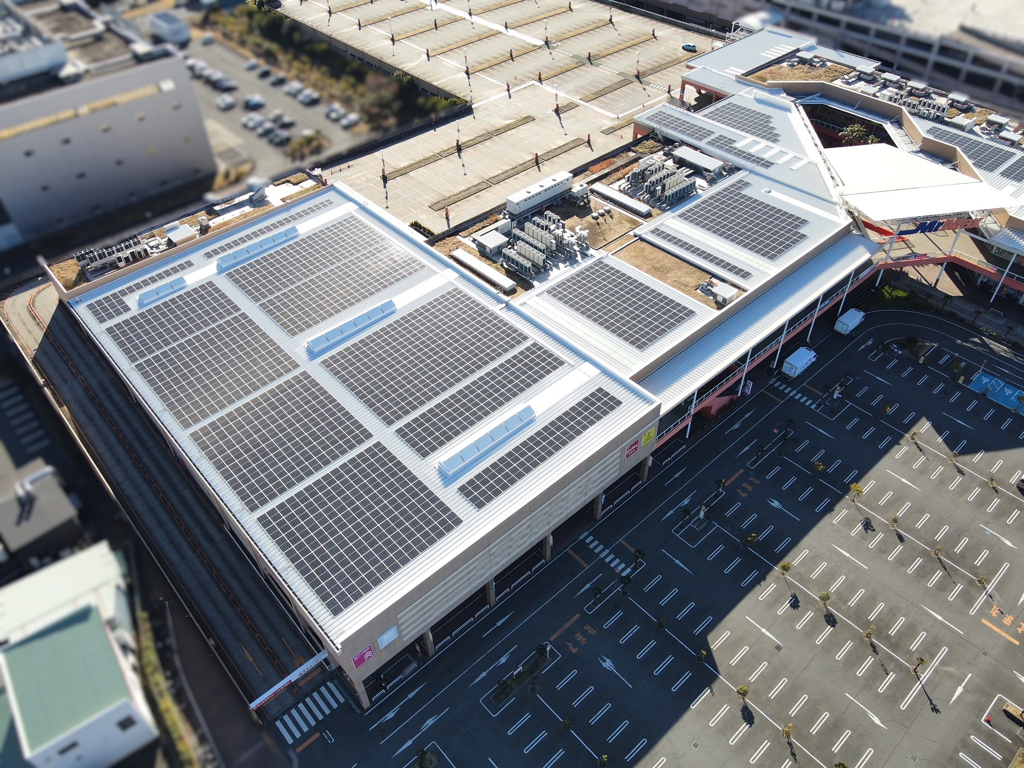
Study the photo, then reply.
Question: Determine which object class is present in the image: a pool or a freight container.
freight container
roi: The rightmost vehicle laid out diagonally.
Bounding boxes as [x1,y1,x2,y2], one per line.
[836,301,870,332]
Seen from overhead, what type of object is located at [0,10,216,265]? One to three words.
building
